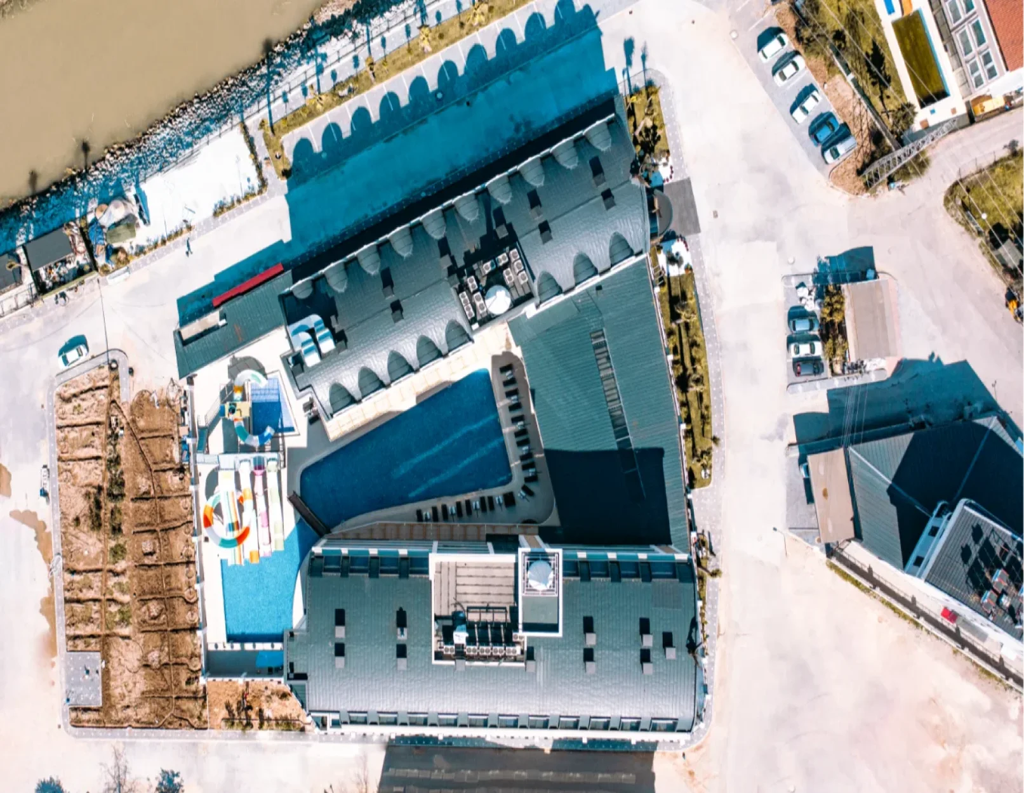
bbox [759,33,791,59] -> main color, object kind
white car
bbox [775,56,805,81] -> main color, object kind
white car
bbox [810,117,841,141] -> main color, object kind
blue car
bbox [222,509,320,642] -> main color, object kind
blue swimming pool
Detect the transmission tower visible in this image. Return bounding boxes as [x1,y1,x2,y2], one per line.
[862,118,968,191]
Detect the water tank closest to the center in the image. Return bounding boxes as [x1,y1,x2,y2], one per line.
[485,287,513,317]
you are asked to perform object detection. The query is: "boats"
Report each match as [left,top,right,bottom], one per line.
[131,187,148,224]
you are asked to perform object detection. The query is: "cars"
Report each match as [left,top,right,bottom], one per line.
[790,341,824,356]
[775,56,805,81]
[794,361,826,375]
[801,452,814,484]
[789,318,821,332]
[810,117,841,141]
[54,342,89,367]
[792,90,825,118]
[759,33,791,59]
[825,133,860,161]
